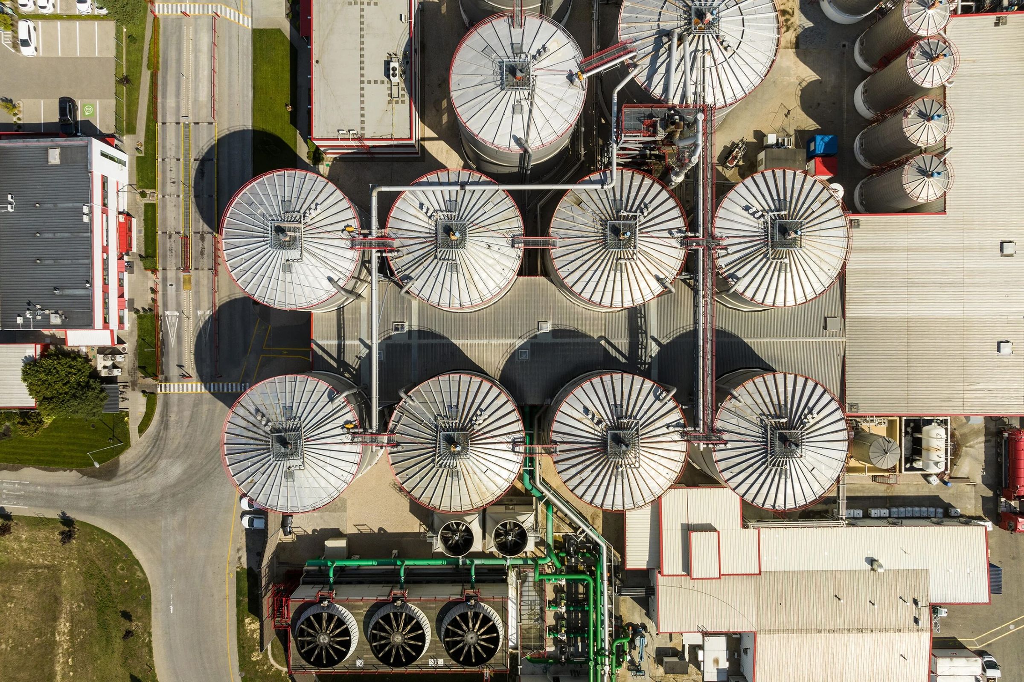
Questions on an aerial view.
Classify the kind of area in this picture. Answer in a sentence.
This image shows an industrial area.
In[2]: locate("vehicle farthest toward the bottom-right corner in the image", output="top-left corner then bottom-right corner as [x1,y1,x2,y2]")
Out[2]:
[981,646,1006,682]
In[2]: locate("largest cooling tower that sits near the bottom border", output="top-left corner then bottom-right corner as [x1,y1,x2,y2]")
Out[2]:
[287,562,515,677]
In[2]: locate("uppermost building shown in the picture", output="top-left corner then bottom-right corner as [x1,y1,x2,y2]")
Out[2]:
[302,0,420,156]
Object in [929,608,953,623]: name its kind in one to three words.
work vehicle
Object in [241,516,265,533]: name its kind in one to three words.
car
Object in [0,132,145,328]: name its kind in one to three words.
building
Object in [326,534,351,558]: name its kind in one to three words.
shed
